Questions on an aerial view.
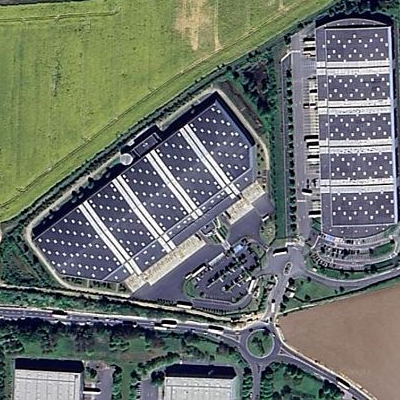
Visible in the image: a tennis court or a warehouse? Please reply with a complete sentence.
I can see a warehouse in this picture.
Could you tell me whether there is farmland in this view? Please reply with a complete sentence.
Yes, farmland shows up in the scene.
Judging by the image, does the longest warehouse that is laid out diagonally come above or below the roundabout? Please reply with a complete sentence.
In the image, the longest warehouse that is laid out diagonally sits above the roundabout.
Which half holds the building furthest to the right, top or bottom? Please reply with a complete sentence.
You can find the building furthest to the right in the top half.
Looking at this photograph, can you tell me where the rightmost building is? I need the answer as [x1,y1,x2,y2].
[316,17,400,238]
